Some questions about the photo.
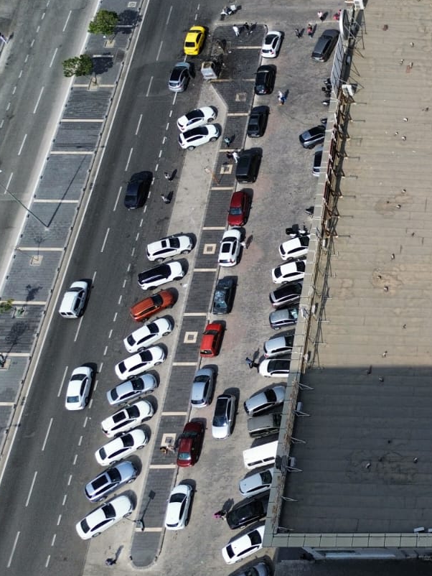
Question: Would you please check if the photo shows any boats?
No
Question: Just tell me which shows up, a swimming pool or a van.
van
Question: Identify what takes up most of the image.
paved ground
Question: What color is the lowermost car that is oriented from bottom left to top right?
white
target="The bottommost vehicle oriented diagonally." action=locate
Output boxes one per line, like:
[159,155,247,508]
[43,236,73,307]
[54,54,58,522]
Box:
[221,523,267,565]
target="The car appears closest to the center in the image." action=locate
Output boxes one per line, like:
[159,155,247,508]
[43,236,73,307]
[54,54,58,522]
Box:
[210,276,240,314]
